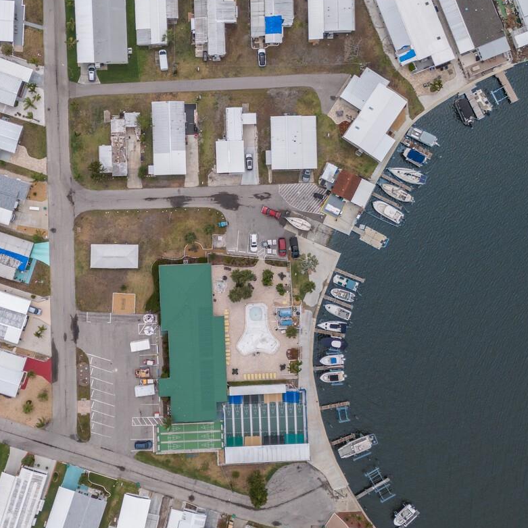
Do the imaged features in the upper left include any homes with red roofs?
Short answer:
No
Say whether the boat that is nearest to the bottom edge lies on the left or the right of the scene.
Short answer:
right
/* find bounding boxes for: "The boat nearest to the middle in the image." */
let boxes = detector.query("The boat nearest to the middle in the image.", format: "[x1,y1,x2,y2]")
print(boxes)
[284,216,313,229]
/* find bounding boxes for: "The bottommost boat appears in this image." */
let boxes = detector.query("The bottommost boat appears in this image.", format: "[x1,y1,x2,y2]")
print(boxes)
[395,503,416,523]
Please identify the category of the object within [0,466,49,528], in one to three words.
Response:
house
